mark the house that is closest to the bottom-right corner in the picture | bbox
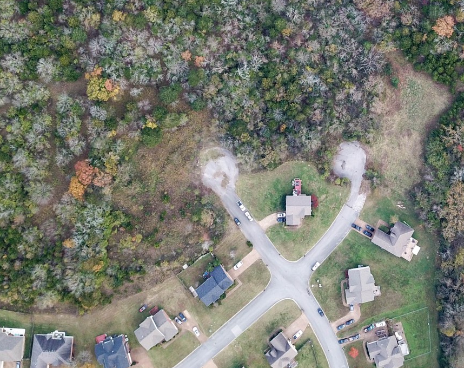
[368,332,409,368]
